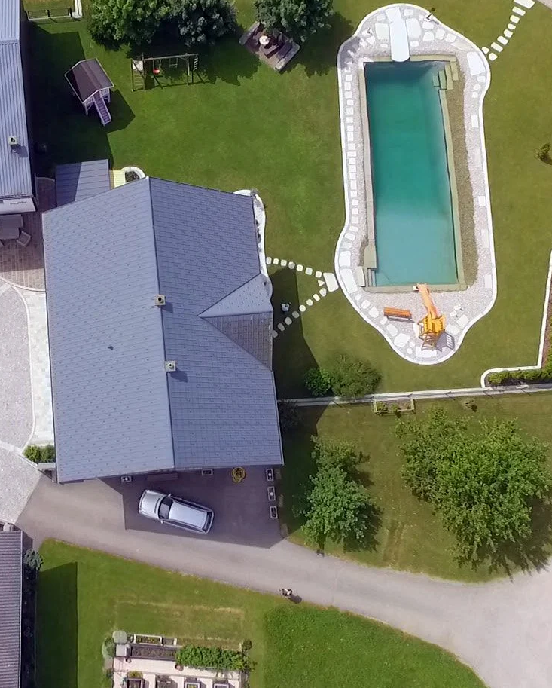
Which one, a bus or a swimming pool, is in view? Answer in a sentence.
It is a swimming pool that can be seen here.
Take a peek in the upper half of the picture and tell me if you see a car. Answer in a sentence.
No, in the upper half of the picture there is no car.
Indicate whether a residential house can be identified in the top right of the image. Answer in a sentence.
No, I can find no residential house in the top right of the image.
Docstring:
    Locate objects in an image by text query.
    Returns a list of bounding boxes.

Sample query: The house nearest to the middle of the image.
[39,174,287,481]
